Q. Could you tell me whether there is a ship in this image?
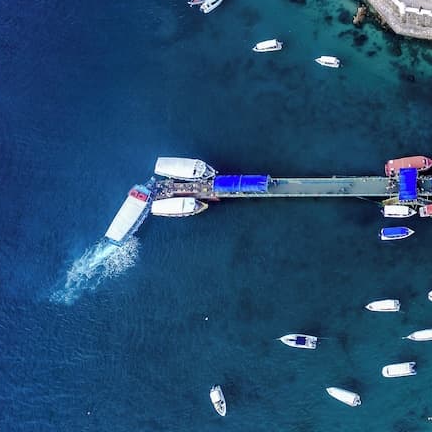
Yes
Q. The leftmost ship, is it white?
Yes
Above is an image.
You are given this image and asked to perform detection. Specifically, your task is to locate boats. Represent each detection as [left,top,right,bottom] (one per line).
[385,154,432,176]
[379,227,414,240]
[150,155,218,180]
[418,203,432,217]
[148,195,209,216]
[209,382,225,416]
[382,363,418,377]
[327,388,364,408]
[380,203,417,217]
[253,37,283,51]
[316,55,344,68]
[366,299,403,313]
[200,0,224,14]
[275,335,320,350]
[404,328,432,341]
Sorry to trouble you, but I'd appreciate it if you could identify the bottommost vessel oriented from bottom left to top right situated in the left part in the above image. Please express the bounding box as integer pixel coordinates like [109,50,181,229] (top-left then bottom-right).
[107,184,161,250]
